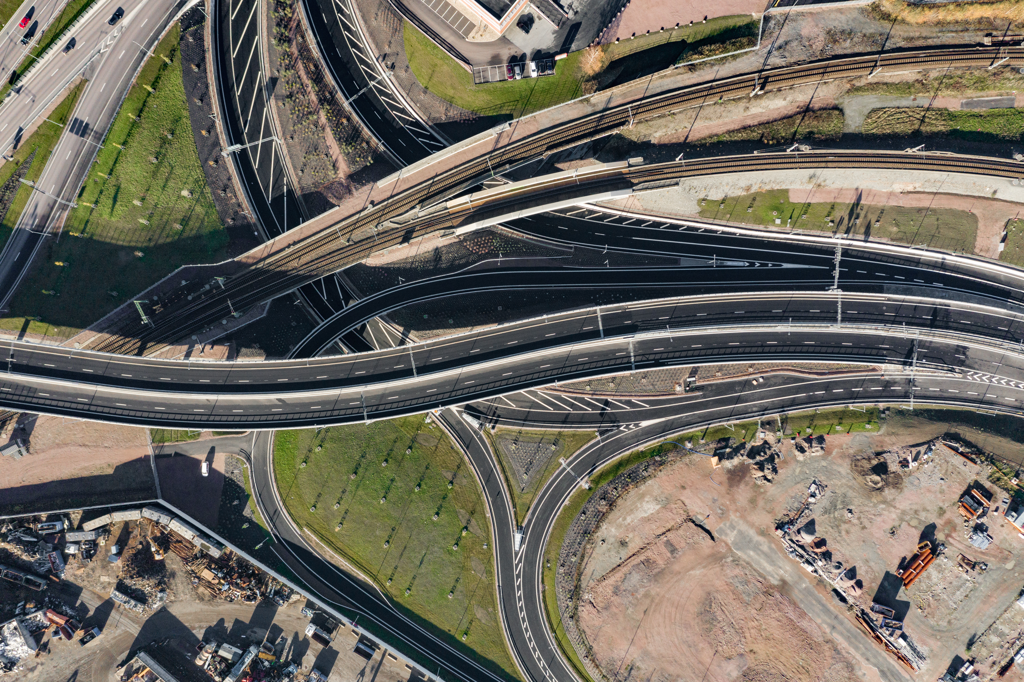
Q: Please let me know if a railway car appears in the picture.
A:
Yes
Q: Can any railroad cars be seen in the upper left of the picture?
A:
No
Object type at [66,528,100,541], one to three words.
rail car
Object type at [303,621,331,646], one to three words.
truck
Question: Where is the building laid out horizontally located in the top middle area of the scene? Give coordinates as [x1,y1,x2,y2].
[453,0,530,35]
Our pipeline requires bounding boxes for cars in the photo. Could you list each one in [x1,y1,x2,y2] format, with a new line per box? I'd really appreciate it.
[530,61,537,76]
[20,32,31,45]
[516,20,530,34]
[514,65,521,79]
[546,59,553,73]
[538,59,545,74]
[507,64,514,79]
[18,14,29,29]
[60,42,73,55]
[107,10,121,24]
